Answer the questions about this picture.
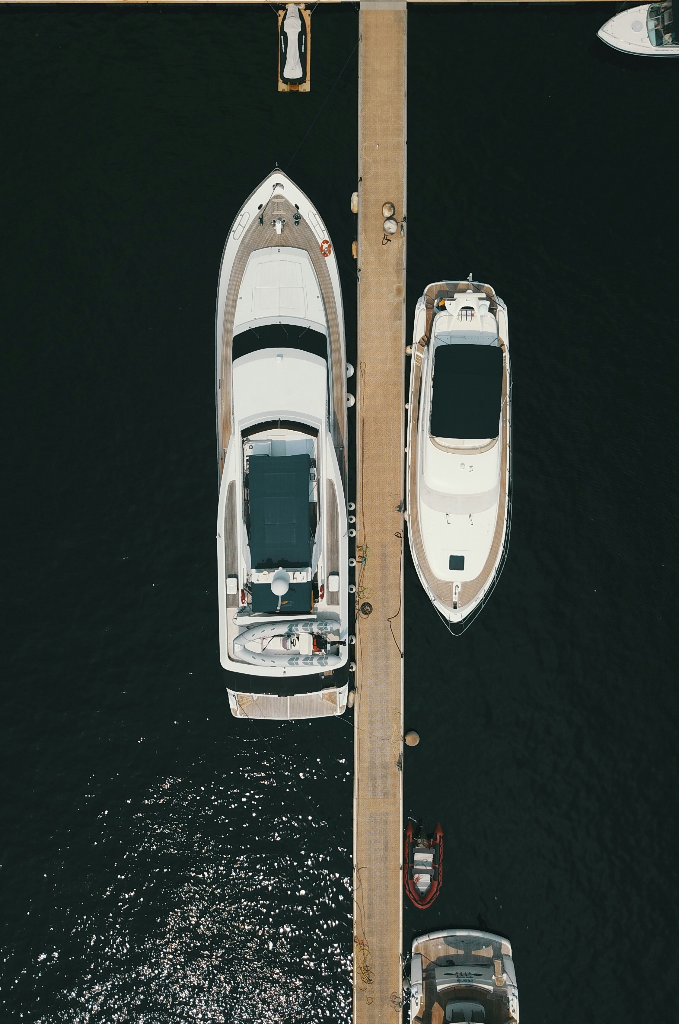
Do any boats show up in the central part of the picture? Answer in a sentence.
Yes, a boat can be seen in the central part of the picture.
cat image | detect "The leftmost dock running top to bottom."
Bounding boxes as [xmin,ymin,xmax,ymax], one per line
[277,10,311,93]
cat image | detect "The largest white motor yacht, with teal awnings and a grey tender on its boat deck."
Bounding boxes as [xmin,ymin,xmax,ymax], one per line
[215,162,350,719]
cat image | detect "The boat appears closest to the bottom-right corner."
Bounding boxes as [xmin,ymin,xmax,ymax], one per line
[408,927,520,1024]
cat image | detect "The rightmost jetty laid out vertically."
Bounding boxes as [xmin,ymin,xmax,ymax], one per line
[353,11,408,1024]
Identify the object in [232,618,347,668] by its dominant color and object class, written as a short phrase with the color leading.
white boat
